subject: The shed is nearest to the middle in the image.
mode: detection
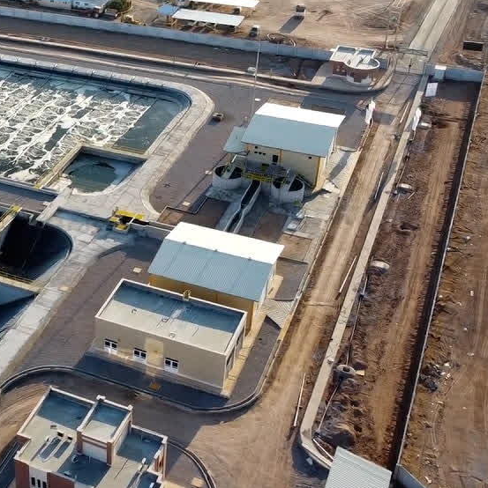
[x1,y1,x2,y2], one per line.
[147,224,281,336]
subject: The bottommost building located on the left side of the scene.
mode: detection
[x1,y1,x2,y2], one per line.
[14,384,172,488]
